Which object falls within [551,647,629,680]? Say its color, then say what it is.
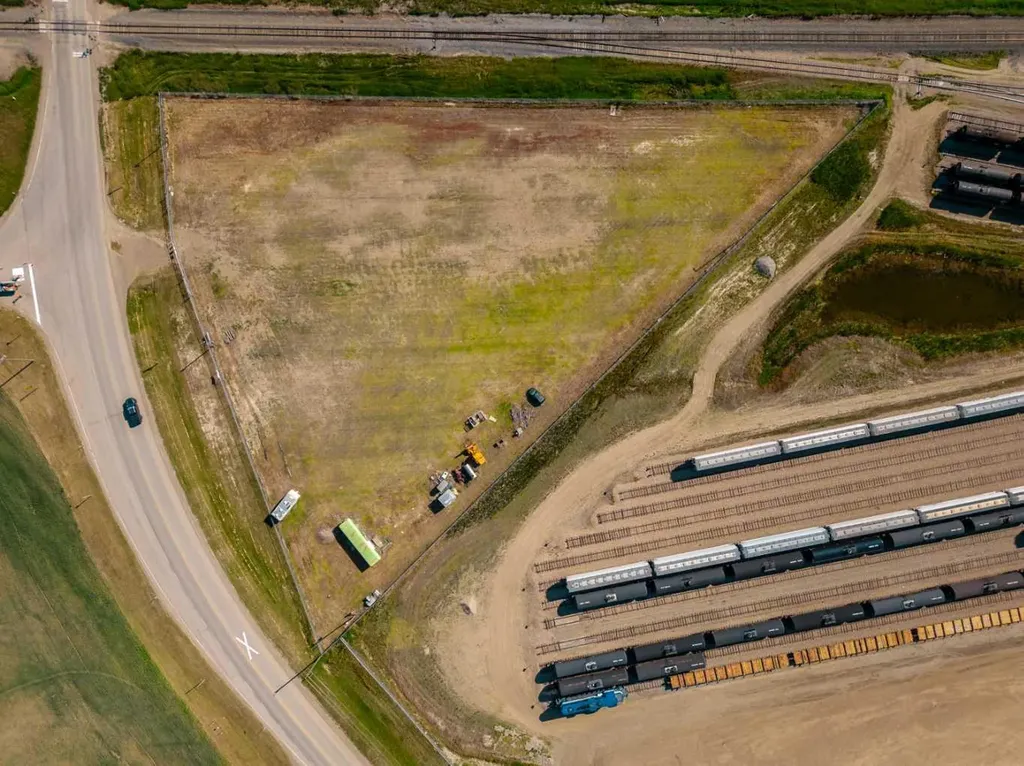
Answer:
gray rail car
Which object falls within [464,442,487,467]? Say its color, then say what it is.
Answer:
orange work vehicle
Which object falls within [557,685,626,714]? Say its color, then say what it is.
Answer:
blue rail car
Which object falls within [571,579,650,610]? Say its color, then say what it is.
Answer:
gray rail car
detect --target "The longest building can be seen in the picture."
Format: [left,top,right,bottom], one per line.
[339,516,383,566]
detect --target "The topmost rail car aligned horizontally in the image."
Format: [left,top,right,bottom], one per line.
[957,123,1024,150]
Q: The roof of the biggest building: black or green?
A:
green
